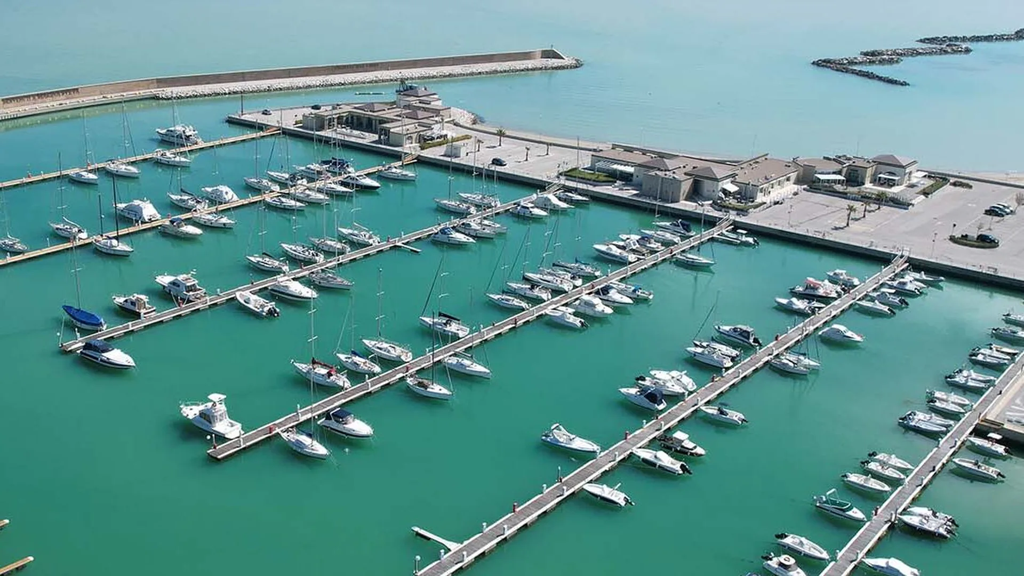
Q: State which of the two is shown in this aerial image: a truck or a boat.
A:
boat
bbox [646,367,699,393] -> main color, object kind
white boat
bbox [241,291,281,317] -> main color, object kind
white boat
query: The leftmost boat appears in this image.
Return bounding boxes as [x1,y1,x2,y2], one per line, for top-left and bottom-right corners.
[0,180,32,253]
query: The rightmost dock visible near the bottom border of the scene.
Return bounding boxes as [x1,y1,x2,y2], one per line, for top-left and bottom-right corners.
[807,352,1024,576]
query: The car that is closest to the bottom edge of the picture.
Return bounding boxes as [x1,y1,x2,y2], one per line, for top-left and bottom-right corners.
[976,231,1003,243]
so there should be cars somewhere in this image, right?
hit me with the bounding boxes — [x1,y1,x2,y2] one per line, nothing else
[993,201,1017,214]
[976,231,1003,243]
[258,106,274,114]
[307,102,324,110]
[984,206,1010,218]
[489,154,509,164]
